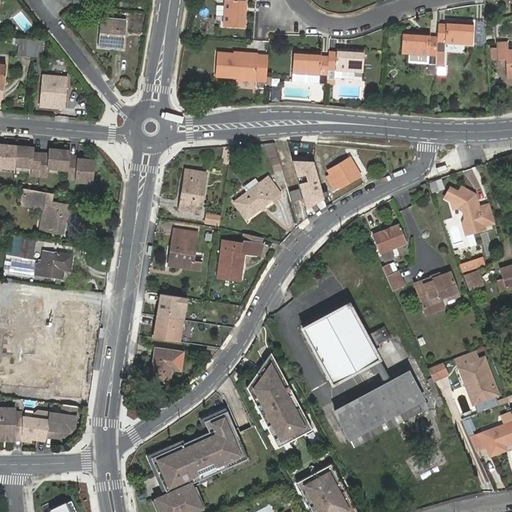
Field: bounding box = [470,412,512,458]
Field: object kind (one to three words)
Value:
house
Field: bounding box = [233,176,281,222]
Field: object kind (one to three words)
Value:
house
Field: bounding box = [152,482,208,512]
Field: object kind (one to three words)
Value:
building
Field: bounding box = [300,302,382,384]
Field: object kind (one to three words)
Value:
building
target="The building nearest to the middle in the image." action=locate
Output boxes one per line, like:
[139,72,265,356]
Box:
[216,238,264,282]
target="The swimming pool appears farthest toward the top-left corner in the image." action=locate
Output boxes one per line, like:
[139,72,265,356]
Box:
[12,10,33,32]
